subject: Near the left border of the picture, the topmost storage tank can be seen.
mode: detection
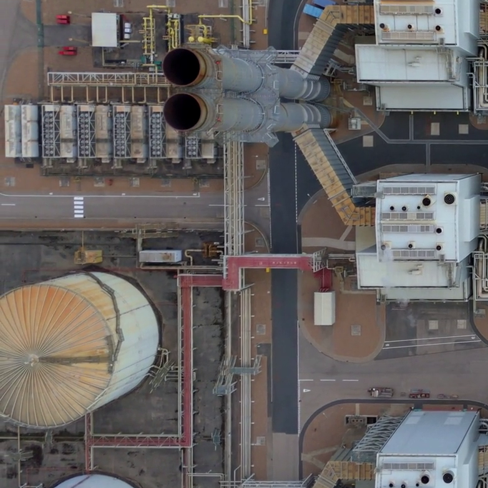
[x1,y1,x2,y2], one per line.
[0,267,163,428]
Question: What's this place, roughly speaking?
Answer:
industrial area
